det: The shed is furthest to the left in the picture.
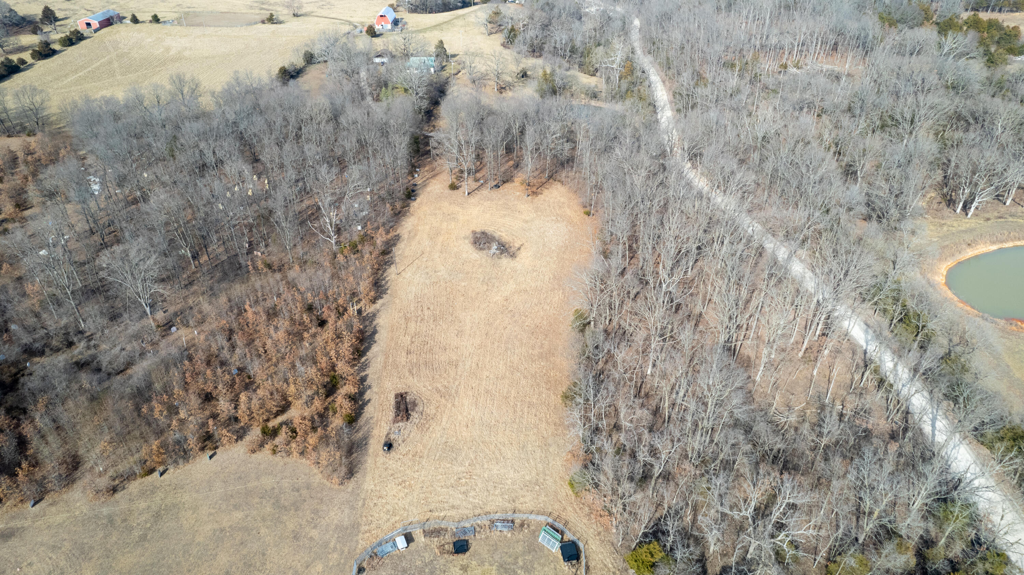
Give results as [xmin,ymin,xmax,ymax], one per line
[76,8,114,36]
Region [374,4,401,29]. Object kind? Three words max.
barn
